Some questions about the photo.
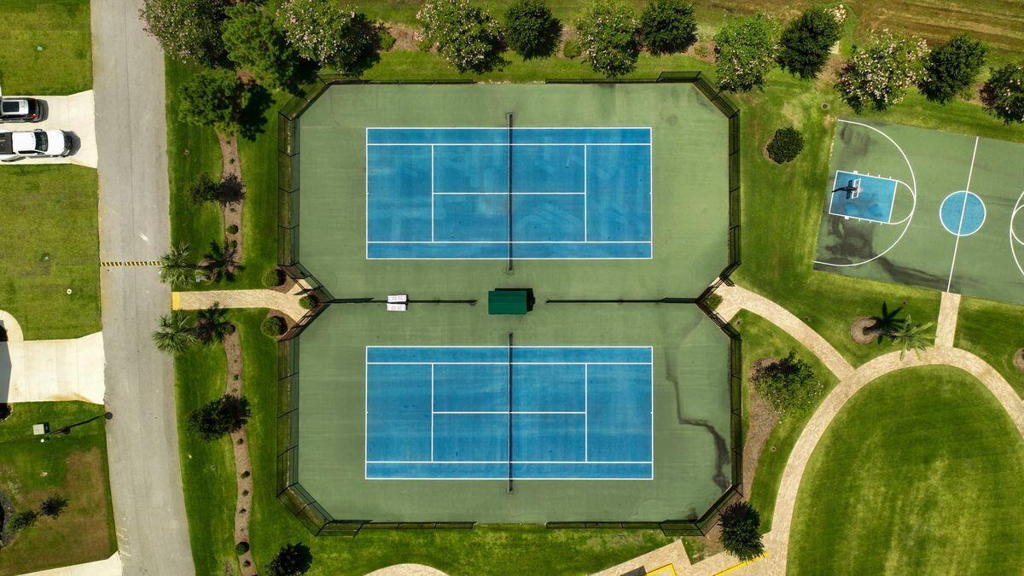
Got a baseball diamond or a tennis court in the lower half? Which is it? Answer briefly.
tennis court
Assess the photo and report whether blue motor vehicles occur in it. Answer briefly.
No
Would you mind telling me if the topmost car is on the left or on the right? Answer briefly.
left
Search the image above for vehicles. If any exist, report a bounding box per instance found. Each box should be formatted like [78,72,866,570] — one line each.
[0,96,45,124]
[0,130,77,159]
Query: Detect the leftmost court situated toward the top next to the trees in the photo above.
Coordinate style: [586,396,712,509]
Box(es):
[290,83,729,301]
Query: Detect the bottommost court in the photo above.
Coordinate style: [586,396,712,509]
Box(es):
[288,301,732,523]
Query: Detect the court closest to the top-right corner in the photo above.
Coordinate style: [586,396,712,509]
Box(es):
[814,120,1024,305]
